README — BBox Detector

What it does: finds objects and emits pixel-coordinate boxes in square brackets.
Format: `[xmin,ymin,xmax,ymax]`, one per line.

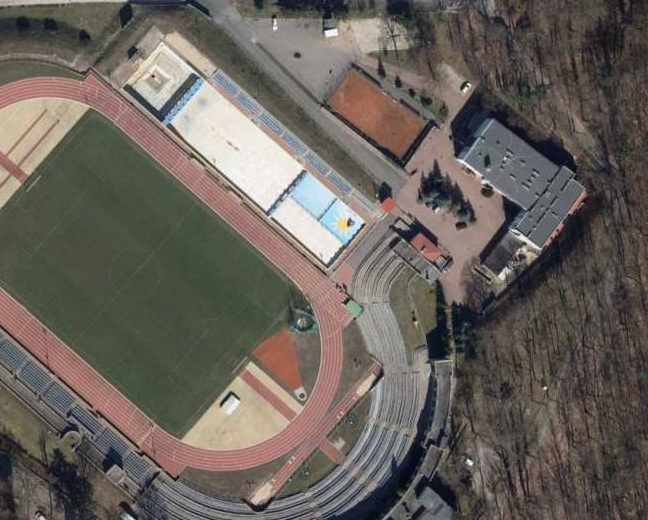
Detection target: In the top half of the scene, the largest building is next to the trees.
[459,118,587,256]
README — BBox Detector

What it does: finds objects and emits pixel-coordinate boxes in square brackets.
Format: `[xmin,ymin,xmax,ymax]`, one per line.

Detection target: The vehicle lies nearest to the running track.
[120,507,137,520]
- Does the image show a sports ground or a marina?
sports ground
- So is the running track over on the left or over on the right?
left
